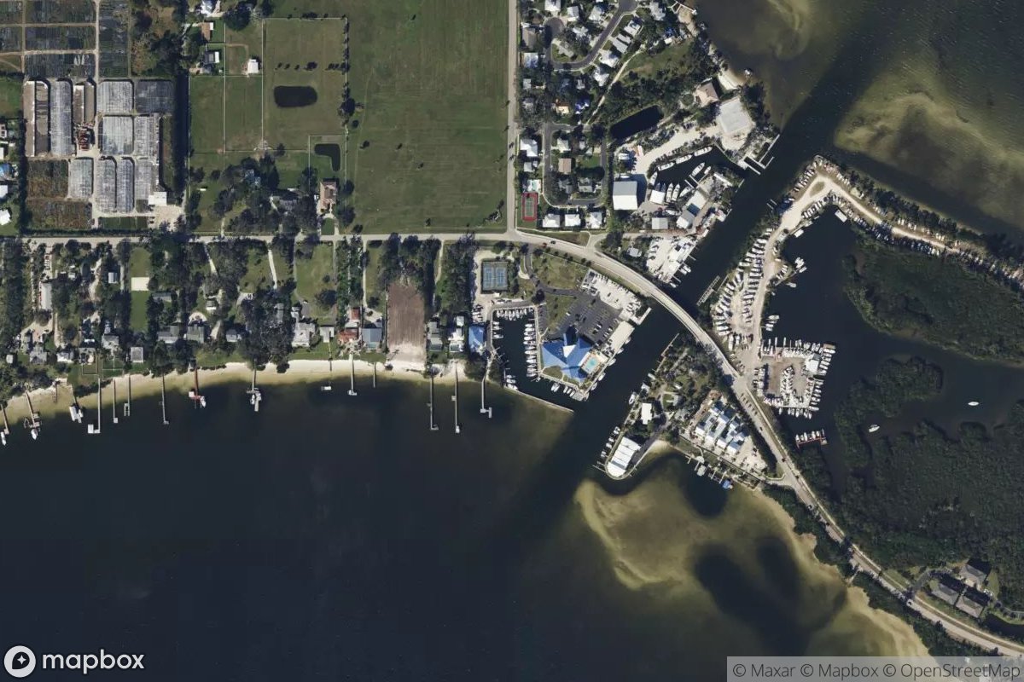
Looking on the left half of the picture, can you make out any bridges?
No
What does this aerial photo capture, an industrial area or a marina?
marina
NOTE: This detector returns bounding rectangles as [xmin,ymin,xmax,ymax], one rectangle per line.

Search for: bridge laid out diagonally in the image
[633,272,715,346]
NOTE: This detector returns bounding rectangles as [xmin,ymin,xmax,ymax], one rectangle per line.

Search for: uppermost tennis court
[522,193,537,221]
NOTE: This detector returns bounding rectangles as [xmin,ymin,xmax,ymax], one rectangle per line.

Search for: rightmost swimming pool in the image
[585,351,604,375]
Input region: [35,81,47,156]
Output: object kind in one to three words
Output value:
greenhouse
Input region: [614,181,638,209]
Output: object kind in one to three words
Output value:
shed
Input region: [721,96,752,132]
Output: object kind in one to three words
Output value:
building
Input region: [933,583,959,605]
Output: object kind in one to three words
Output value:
house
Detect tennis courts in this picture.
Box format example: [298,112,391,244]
[522,193,537,221]
[483,263,495,292]
[495,263,507,292]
